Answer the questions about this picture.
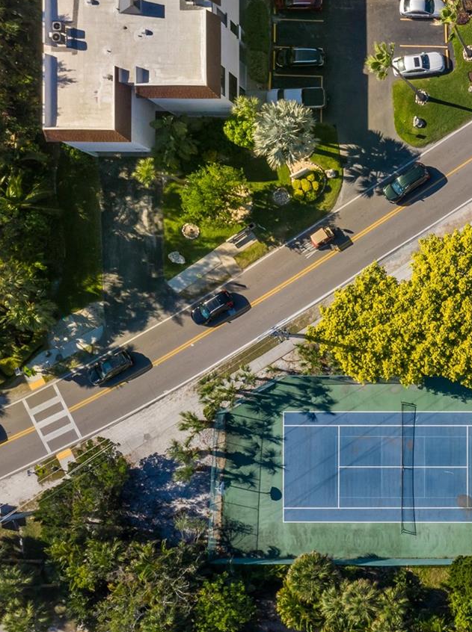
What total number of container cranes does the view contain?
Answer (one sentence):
There are no container cranes in this view.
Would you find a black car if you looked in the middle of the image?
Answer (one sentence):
Yes, a black car appears in the middle of the image.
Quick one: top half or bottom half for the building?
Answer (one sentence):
You can find the building in the top half.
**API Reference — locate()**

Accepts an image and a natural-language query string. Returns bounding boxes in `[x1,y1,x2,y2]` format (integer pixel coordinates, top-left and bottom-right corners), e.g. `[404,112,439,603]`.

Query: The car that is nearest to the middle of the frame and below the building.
[189,289,238,327]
